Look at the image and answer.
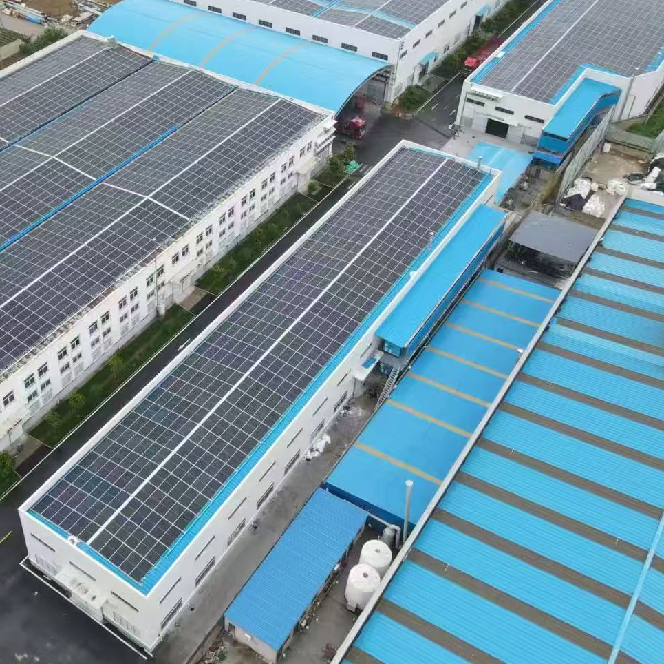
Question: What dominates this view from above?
buildings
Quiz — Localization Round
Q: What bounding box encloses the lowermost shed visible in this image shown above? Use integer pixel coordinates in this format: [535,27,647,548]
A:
[222,486,365,664]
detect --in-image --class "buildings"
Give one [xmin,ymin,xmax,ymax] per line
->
[171,0,505,103]
[329,193,664,664]
[0,30,339,462]
[455,0,664,147]
[17,139,502,658]
[222,486,365,664]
